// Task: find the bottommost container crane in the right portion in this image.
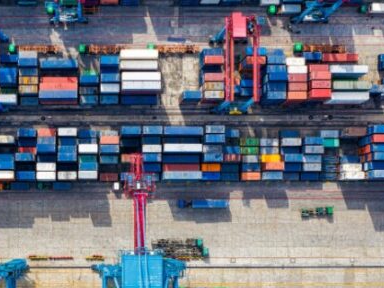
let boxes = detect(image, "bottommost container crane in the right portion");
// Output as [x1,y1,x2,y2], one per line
[207,13,260,118]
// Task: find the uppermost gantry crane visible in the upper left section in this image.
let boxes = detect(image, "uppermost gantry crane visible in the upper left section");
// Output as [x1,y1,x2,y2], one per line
[46,0,91,24]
